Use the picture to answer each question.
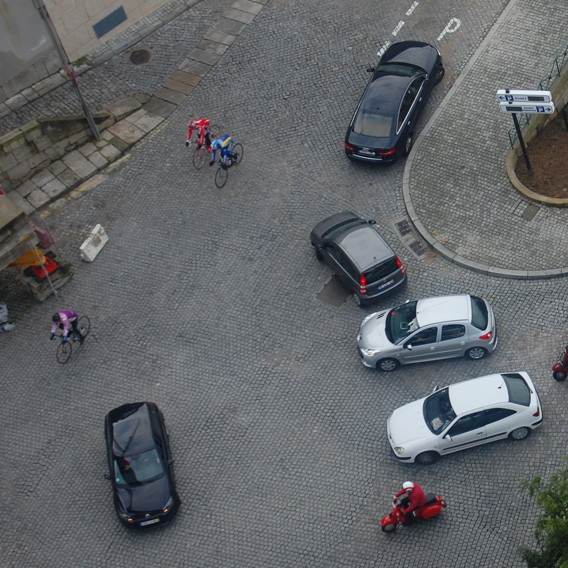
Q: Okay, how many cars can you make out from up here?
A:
5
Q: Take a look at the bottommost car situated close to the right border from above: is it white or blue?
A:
white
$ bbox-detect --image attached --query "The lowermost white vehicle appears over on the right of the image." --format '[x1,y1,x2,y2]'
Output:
[386,371,542,466]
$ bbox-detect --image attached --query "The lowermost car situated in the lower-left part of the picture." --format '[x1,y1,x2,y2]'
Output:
[100,394,180,524]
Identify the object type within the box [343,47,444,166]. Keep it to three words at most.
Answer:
car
